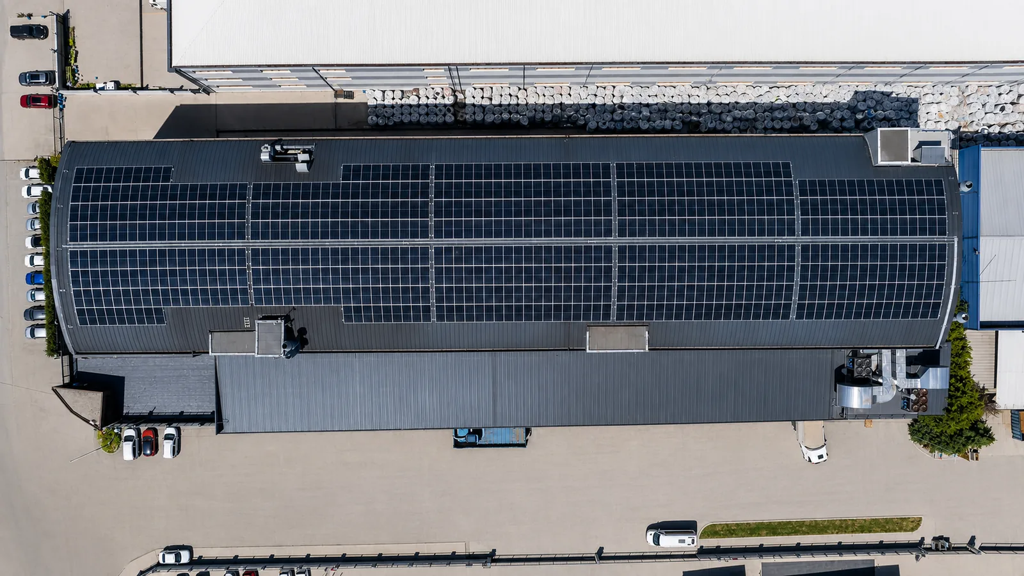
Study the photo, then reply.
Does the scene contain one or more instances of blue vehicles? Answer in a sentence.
Yes, there's a blue vehicle here.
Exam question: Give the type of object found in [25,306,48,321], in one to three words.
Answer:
car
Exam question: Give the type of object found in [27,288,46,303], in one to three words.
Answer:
car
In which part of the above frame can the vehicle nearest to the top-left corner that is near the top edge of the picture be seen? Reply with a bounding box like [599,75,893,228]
[10,23,50,41]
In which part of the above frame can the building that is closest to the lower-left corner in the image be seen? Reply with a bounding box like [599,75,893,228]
[51,384,116,429]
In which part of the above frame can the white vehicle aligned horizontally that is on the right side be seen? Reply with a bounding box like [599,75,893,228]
[646,531,698,550]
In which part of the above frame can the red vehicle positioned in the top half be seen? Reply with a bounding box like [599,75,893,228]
[22,93,56,109]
